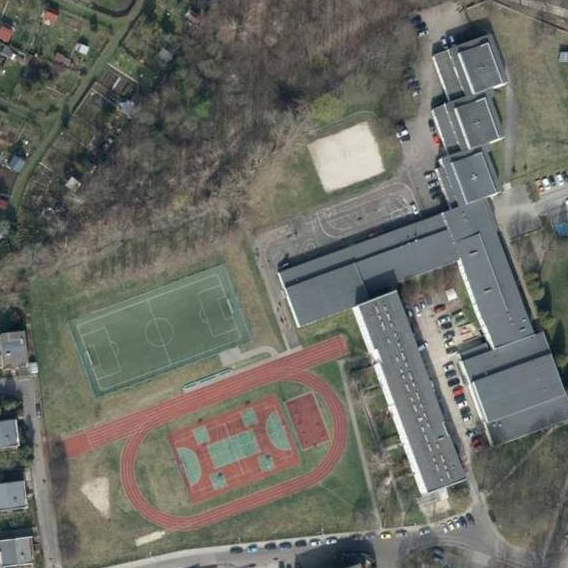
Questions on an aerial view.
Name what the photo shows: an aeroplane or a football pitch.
football pitch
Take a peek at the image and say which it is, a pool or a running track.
running track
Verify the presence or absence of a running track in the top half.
No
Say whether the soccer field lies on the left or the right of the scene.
left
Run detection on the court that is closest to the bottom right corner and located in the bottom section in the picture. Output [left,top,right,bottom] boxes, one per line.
[284,392,328,449]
